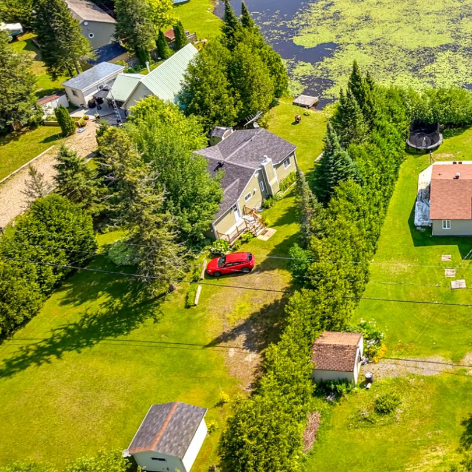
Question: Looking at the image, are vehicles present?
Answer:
Yes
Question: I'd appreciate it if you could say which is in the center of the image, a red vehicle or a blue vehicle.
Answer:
red vehicle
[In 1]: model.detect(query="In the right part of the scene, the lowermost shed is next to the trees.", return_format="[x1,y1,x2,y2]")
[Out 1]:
[309,334,365,386]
